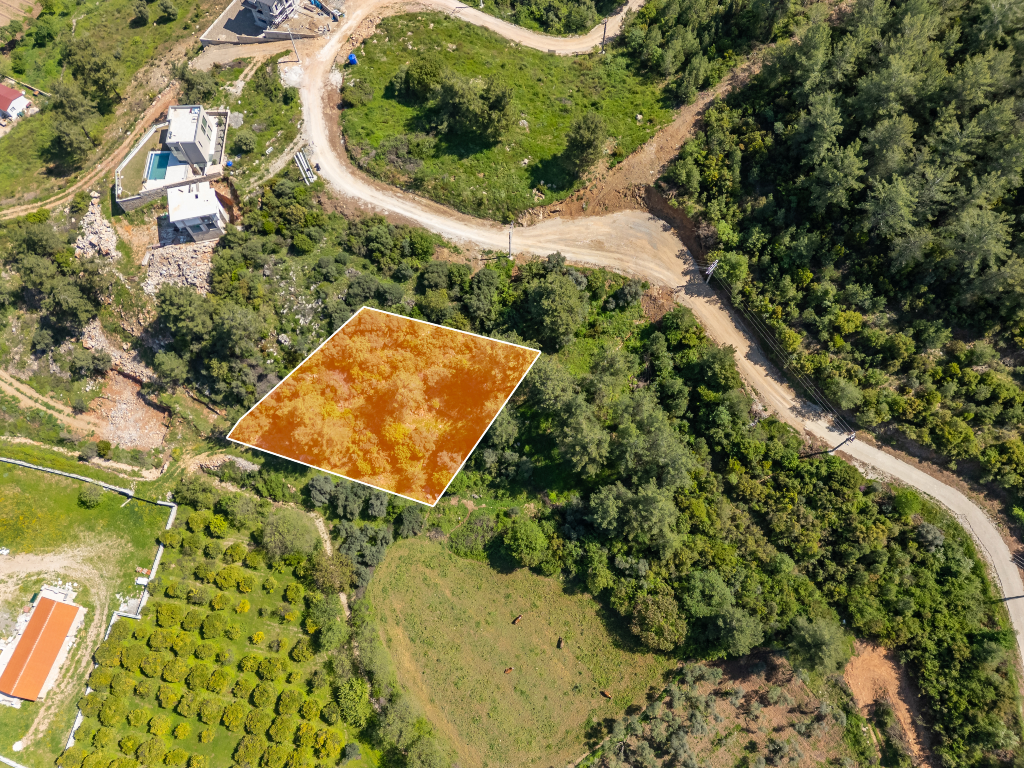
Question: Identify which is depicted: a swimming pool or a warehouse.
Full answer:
There is a swimming pool in the scene.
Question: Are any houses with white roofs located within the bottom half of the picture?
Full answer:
No, the scene shows no house with a white roof within the bottom half of the picture.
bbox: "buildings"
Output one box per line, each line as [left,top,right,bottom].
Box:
[163,106,219,167]
[168,182,237,241]
[246,0,291,27]
[0,82,33,125]
[0,583,88,712]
